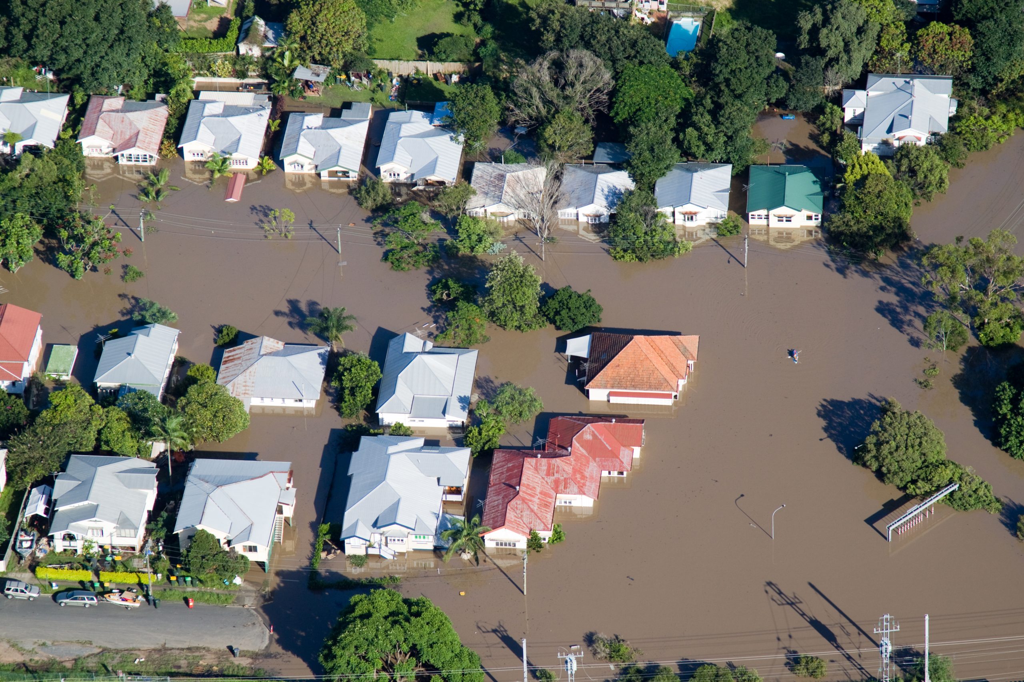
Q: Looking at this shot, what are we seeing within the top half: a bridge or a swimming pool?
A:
swimming pool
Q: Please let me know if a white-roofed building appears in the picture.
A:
Yes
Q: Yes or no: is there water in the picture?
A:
Yes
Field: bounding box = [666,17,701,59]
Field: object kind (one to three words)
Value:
swimming pool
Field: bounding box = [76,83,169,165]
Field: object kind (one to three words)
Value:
house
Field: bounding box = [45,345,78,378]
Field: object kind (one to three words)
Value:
shed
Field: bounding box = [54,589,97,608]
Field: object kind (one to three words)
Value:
car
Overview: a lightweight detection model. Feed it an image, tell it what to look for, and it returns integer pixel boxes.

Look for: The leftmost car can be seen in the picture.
[2,579,41,601]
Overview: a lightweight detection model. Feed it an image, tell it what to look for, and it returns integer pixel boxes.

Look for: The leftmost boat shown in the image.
[19,528,33,556]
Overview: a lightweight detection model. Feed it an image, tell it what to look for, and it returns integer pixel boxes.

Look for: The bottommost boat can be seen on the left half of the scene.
[103,588,143,606]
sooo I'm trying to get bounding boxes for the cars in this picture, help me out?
[54,589,97,608]
[2,579,41,601]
